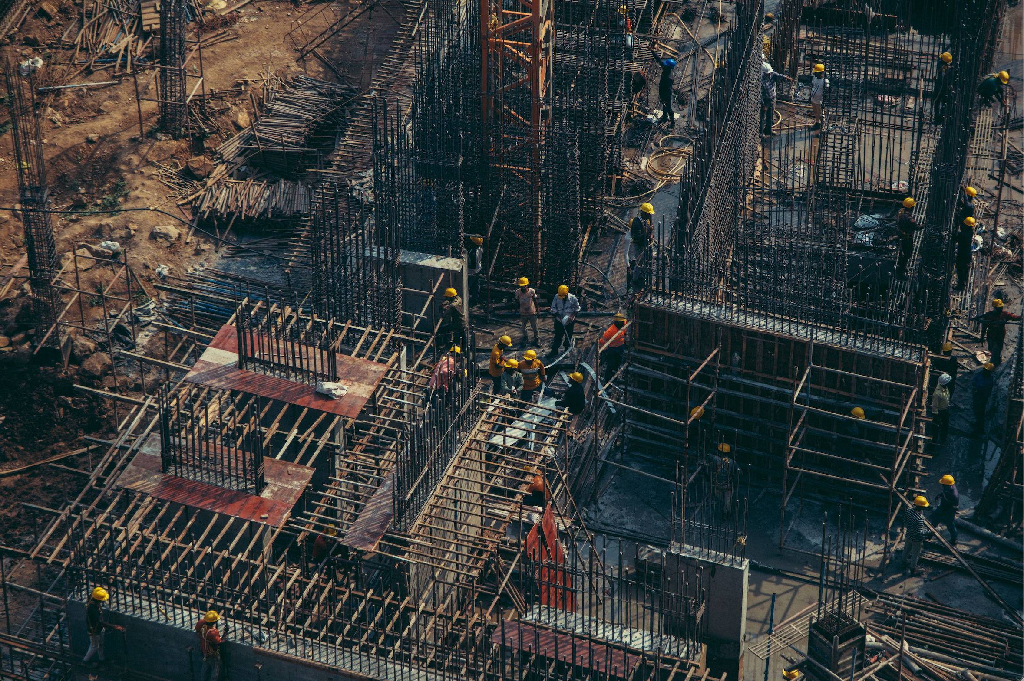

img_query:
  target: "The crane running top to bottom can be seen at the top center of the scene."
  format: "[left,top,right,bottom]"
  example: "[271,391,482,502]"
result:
[482,0,561,264]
